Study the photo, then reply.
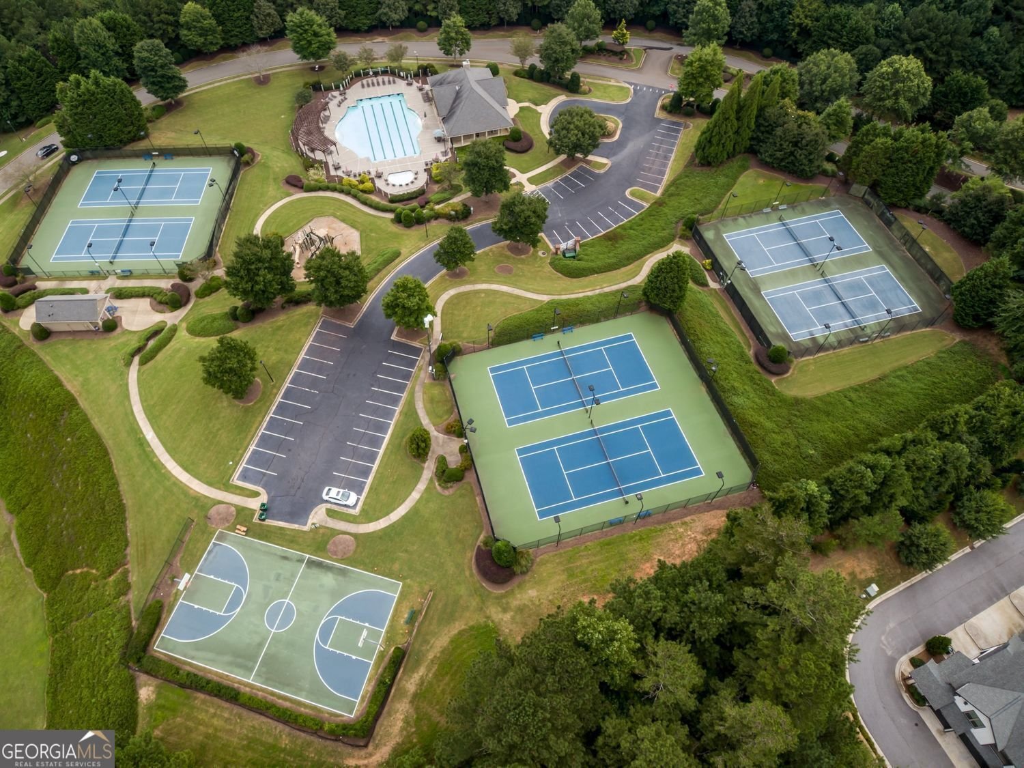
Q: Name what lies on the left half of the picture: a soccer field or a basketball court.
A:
basketball court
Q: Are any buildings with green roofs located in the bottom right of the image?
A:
No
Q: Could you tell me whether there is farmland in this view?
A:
No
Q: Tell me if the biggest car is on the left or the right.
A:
left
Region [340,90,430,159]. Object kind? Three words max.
swimming pool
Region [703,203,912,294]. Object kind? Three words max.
tennis court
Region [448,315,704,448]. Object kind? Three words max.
tennis court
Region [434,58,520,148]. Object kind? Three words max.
building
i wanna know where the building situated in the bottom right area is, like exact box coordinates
[899,643,1024,768]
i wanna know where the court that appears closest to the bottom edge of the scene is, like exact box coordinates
[147,522,398,712]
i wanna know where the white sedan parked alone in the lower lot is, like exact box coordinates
[317,481,354,503]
